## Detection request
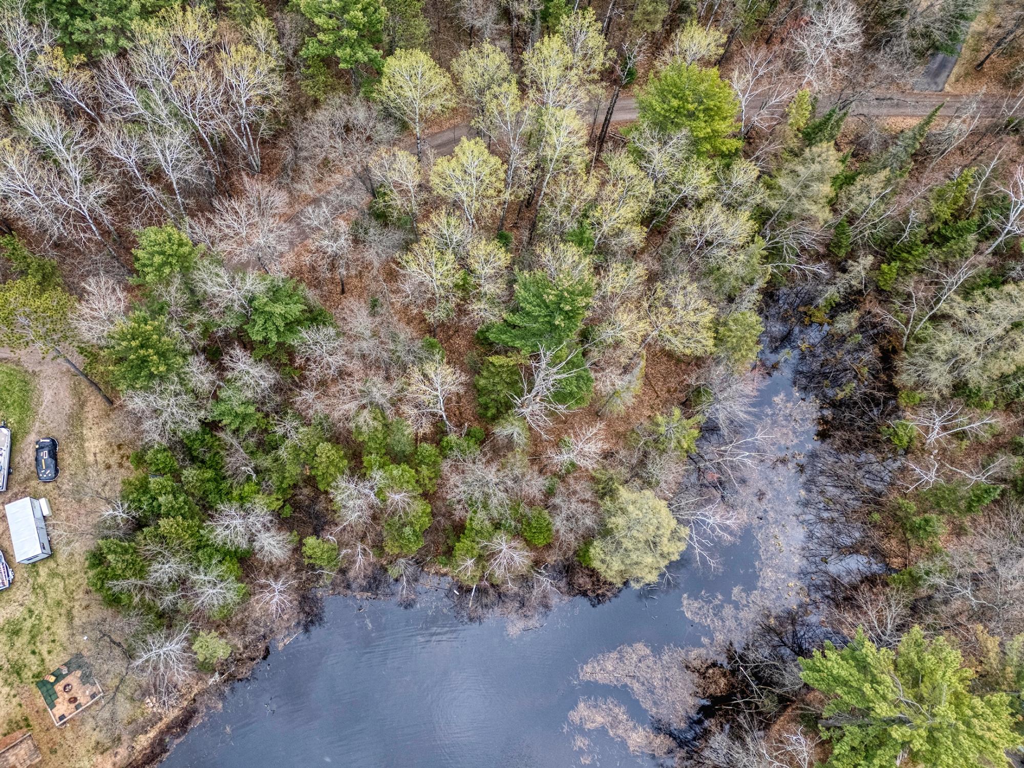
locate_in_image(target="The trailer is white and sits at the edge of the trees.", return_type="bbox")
[6,495,52,565]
